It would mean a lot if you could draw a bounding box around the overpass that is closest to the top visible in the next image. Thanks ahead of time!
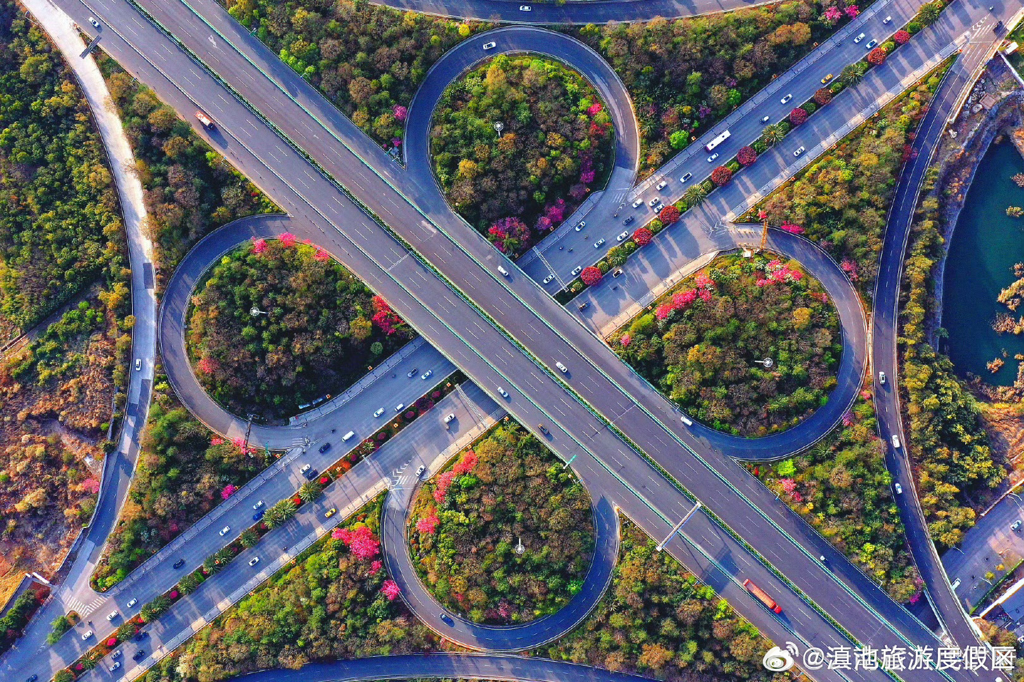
[372,206,648,469]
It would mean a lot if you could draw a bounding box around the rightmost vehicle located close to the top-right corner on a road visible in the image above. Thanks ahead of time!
[989,20,1006,35]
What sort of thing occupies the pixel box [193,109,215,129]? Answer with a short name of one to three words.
vehicle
